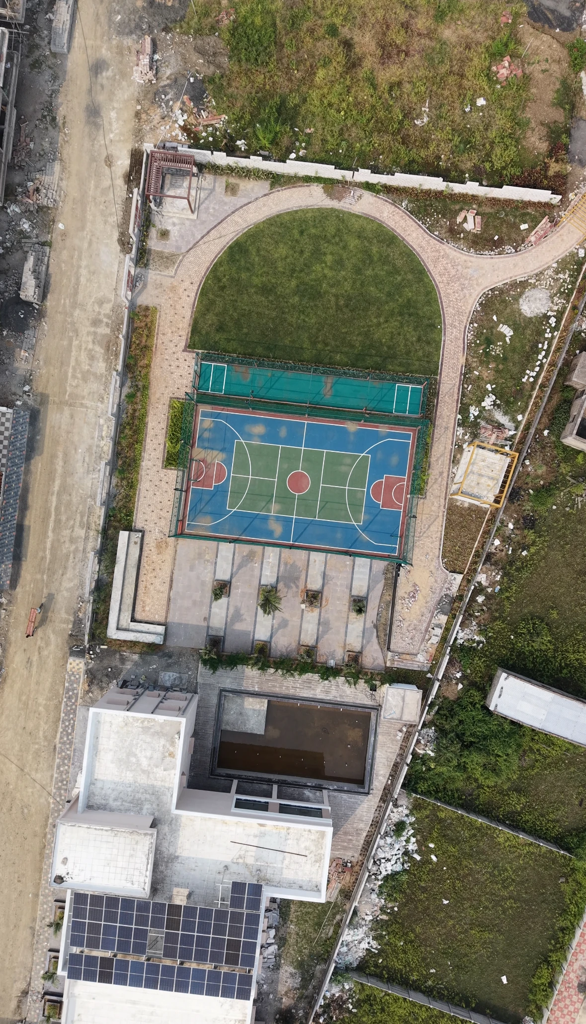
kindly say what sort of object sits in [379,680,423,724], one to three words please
building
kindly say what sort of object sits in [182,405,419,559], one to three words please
sports court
